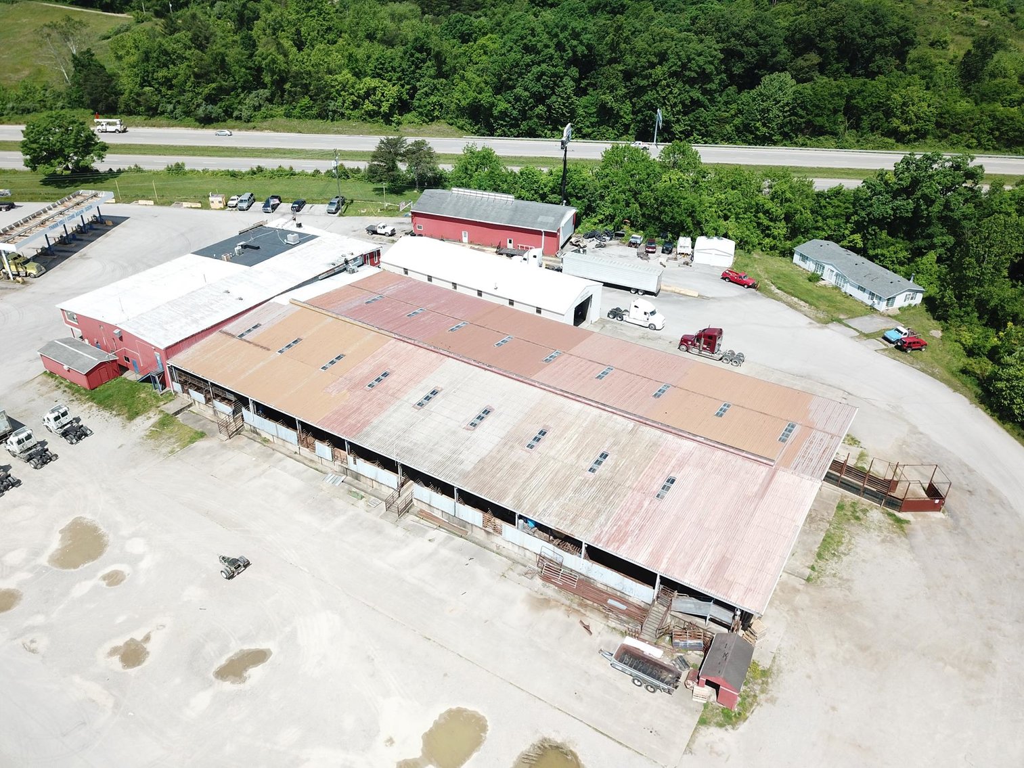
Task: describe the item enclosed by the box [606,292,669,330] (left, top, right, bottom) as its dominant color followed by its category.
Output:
white truck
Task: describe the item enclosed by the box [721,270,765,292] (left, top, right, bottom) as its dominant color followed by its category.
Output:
red truck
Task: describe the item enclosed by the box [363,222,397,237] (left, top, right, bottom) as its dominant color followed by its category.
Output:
white vehicle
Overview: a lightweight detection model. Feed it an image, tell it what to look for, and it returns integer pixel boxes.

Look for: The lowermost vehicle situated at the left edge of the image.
[0,464,23,498]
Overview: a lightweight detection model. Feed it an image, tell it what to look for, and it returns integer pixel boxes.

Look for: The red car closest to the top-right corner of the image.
[895,334,933,353]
